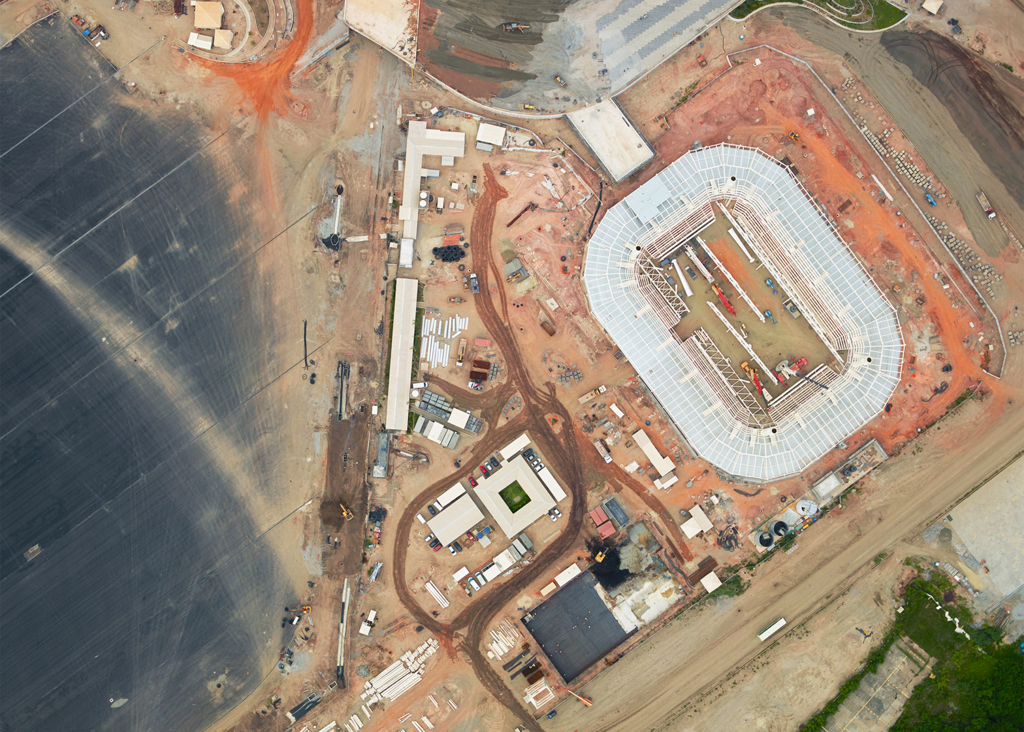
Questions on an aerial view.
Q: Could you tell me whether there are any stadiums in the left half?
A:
No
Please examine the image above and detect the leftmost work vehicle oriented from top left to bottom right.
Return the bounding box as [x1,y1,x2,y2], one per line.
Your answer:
[339,503,354,520]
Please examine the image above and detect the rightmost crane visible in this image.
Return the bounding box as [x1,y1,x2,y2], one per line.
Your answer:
[776,354,832,391]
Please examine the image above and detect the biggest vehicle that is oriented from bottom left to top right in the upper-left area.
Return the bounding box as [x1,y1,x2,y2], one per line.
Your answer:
[88,22,107,40]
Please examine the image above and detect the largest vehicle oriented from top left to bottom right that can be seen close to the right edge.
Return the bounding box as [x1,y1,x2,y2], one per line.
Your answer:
[975,191,997,220]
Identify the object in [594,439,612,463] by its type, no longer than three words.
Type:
vehicle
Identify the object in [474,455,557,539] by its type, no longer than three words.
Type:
building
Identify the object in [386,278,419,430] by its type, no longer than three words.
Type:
building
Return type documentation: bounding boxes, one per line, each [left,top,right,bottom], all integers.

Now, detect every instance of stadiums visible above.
[577,141,907,481]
